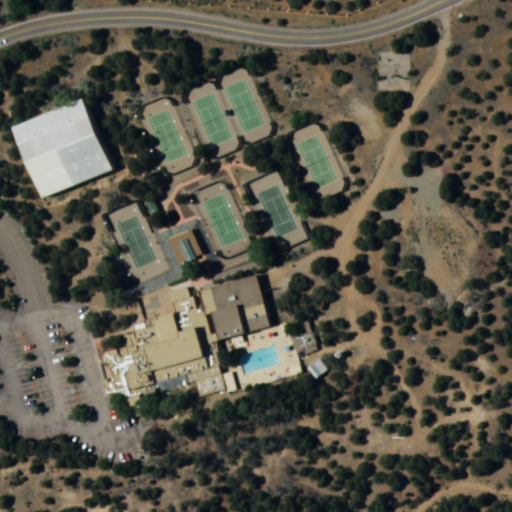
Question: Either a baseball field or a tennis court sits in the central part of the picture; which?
tennis court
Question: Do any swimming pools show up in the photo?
Yes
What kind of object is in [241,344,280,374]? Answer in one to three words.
swimming pool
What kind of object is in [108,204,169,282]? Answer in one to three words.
tennis court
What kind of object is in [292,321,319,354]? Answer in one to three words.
building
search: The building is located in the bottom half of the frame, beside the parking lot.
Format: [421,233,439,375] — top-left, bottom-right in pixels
[104,276,270,408]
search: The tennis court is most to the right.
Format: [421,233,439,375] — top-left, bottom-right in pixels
[292,125,343,198]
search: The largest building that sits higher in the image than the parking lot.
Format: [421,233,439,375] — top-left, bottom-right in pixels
[12,99,115,198]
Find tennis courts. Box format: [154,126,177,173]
[108,204,169,282]
[142,100,194,172]
[249,172,308,246]
[188,83,238,156]
[292,125,343,198]
[198,184,249,256]
[220,69,270,142]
